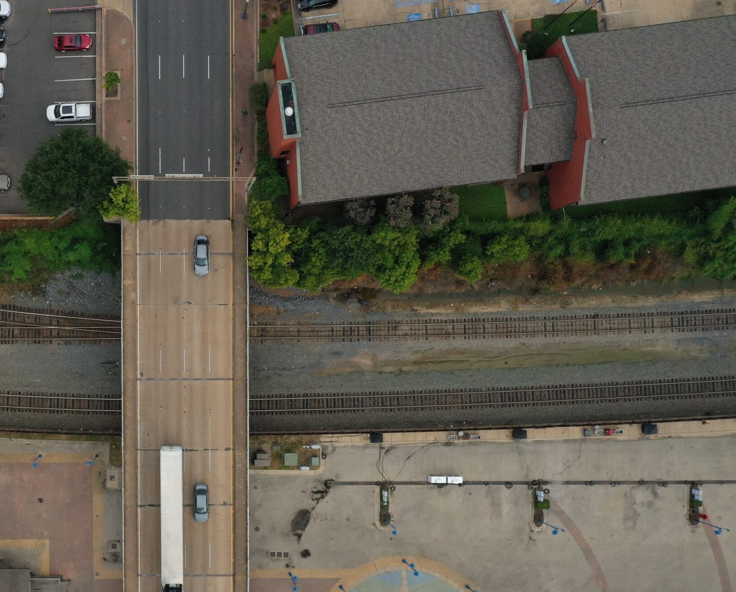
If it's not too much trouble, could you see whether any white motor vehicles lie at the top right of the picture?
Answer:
No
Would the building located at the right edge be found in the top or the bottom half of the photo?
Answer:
top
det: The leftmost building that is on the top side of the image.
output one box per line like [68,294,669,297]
[265,10,536,210]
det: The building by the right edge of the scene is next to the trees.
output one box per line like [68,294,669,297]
[544,15,736,211]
